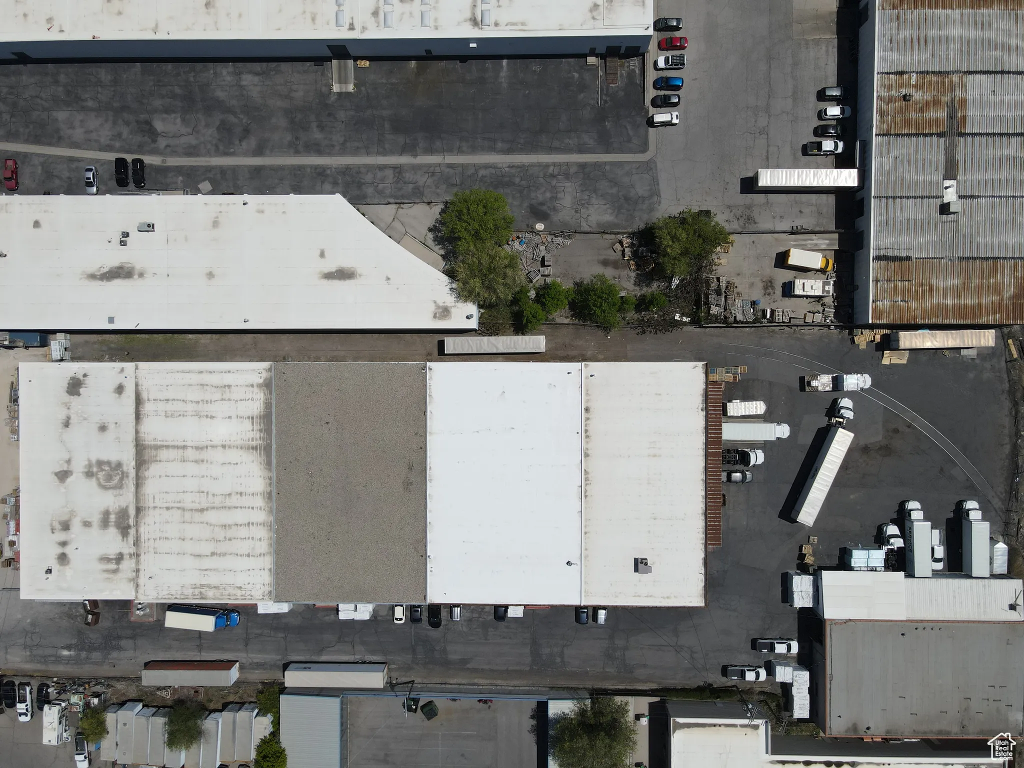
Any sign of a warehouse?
Yes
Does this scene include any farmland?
No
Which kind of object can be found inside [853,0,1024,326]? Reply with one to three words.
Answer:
building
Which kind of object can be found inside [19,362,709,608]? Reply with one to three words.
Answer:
warehouse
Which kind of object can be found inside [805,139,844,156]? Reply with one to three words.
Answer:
vehicle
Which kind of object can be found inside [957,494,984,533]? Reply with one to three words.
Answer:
truck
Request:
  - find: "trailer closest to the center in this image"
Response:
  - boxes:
[444,335,545,354]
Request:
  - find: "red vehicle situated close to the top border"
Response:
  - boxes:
[657,36,688,52]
